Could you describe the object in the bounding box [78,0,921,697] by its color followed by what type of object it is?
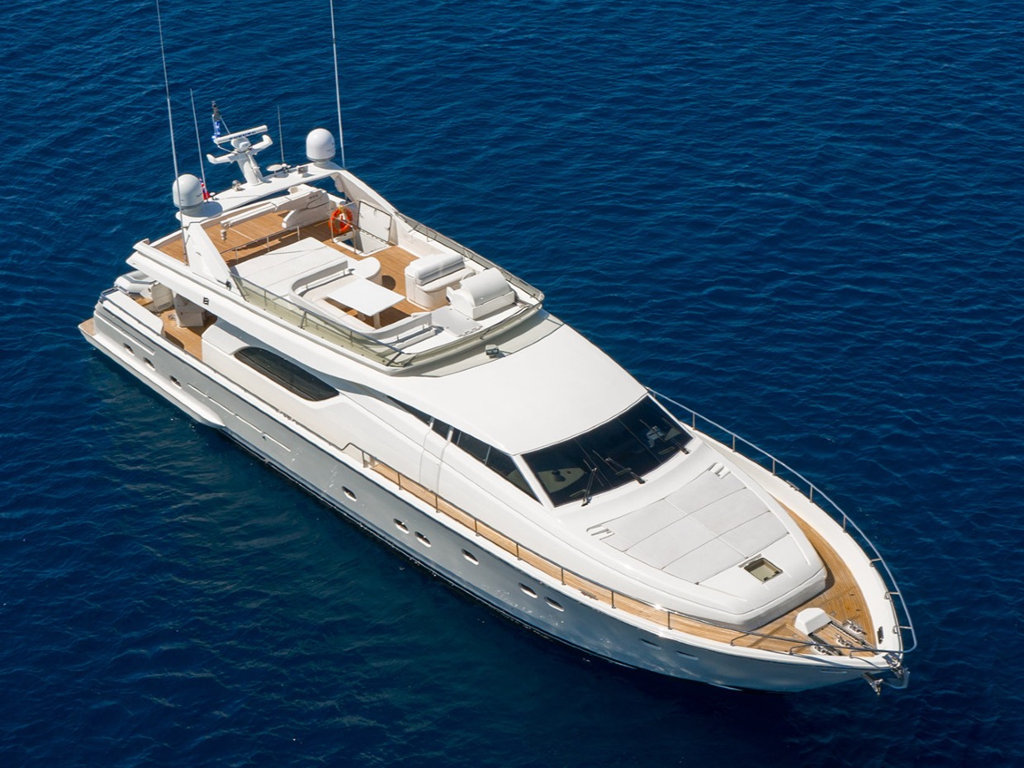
white boat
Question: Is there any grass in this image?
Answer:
No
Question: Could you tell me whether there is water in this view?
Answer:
Yes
